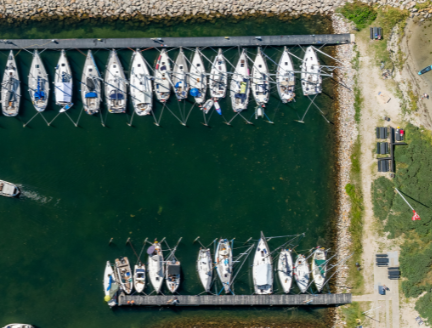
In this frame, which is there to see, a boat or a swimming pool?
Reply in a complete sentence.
I can see a boat in this picture.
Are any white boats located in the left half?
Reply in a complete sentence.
Yes, a white boat appears in the left half.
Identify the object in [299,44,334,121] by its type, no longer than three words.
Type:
boat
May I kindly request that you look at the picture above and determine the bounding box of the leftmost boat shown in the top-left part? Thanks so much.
[0,49,22,121]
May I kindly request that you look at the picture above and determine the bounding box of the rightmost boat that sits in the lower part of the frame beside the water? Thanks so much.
[310,248,338,294]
